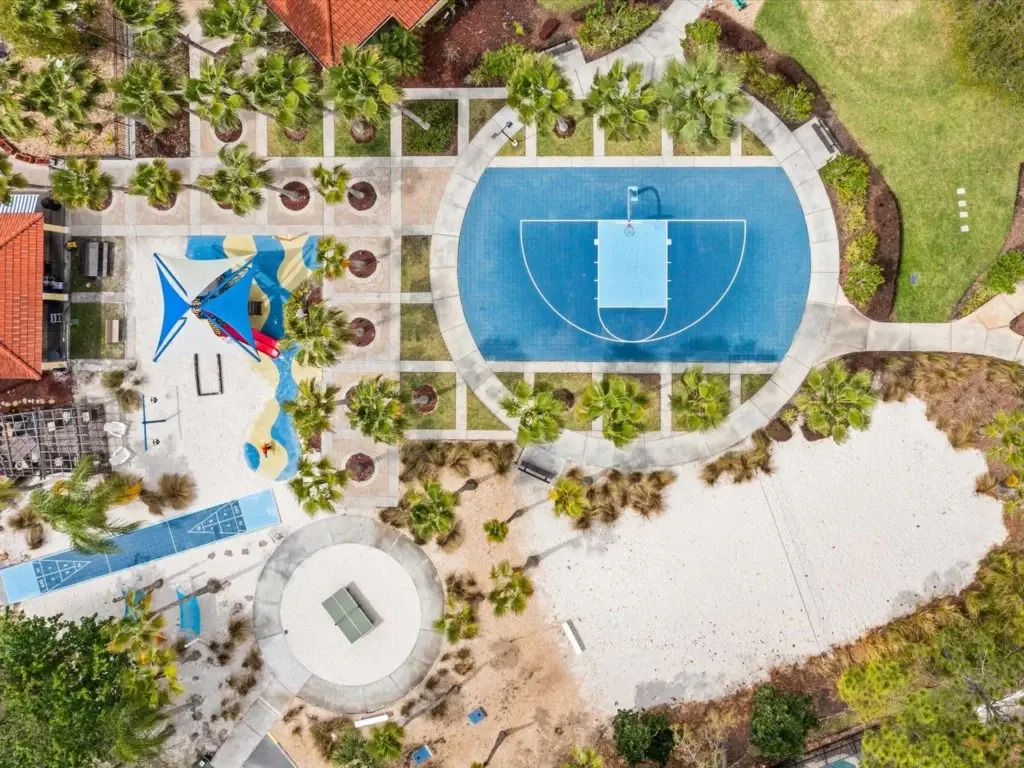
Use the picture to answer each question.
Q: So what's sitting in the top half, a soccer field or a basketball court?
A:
basketball court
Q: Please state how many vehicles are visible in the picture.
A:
none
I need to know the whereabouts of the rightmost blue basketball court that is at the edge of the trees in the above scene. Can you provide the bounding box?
[457,167,810,362]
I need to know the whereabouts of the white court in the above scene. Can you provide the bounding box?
[528,397,1005,719]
